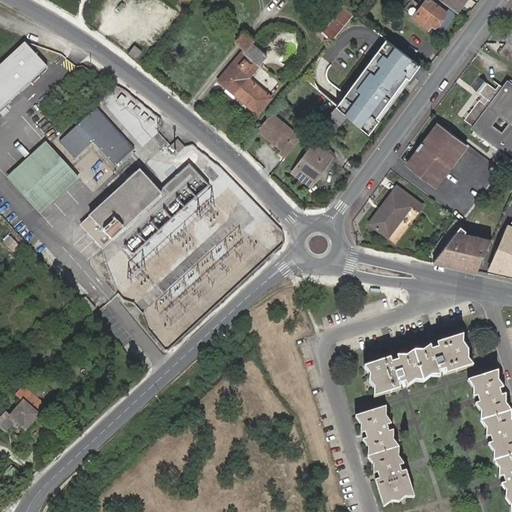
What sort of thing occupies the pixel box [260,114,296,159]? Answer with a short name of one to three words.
house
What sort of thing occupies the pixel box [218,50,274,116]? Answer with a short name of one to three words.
house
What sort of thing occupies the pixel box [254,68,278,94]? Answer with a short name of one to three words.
shed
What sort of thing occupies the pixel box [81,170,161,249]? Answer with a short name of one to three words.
building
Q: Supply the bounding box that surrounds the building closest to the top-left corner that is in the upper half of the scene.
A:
[0,41,48,116]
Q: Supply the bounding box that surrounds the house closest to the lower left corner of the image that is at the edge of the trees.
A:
[0,388,41,432]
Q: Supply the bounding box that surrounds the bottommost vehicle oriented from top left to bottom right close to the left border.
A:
[13,139,29,156]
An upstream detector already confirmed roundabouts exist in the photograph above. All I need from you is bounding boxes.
[277,205,362,279]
